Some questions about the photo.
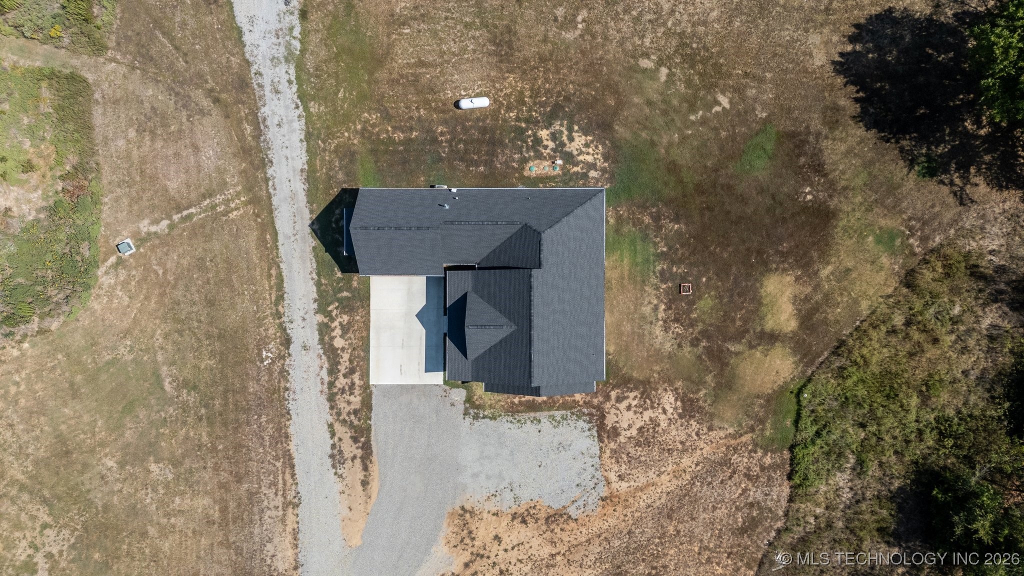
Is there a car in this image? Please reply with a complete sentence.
No, there is no car in the image.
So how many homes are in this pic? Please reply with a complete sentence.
Just 1 home appears in this view.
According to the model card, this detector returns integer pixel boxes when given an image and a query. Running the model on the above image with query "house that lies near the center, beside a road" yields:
[344,188,605,397]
